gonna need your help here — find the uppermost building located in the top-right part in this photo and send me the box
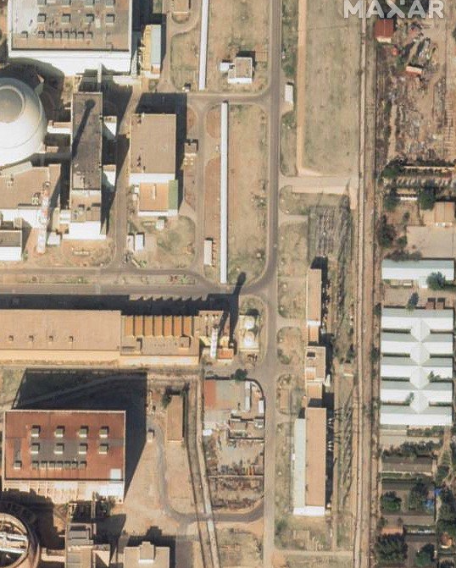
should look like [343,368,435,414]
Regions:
[375,19,394,40]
